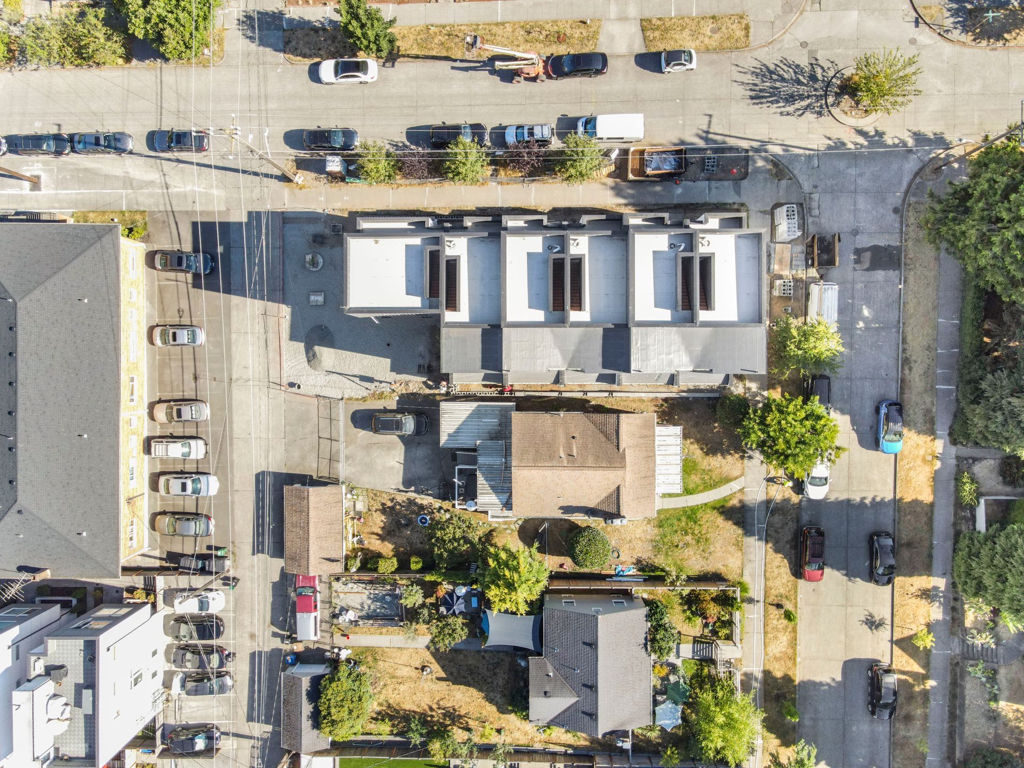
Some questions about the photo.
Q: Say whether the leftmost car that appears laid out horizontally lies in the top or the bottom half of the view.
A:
top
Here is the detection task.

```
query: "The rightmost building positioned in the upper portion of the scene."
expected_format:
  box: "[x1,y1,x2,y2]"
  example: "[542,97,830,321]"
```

[618,213,768,385]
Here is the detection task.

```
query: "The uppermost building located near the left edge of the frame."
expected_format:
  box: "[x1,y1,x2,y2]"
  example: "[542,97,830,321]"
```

[0,223,148,580]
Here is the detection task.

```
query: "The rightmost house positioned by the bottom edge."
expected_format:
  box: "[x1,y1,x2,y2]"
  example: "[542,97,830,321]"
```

[529,595,652,737]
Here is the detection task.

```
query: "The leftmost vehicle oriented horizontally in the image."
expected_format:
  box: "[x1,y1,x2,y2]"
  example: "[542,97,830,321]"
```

[7,129,74,159]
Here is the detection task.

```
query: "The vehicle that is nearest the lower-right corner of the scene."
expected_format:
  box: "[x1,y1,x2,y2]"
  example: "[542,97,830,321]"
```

[867,661,899,719]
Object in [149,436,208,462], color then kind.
white car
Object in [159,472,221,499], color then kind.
white car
